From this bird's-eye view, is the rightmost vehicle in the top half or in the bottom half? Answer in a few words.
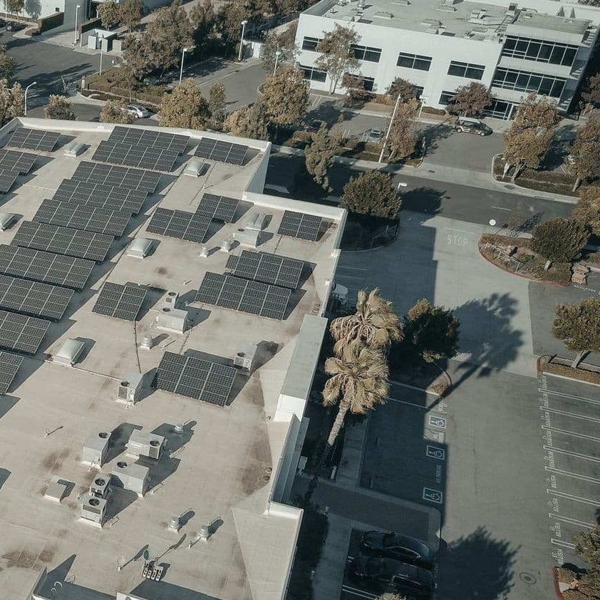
top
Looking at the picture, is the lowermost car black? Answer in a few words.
Yes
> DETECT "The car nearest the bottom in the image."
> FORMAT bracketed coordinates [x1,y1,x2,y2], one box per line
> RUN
[357,548,439,596]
